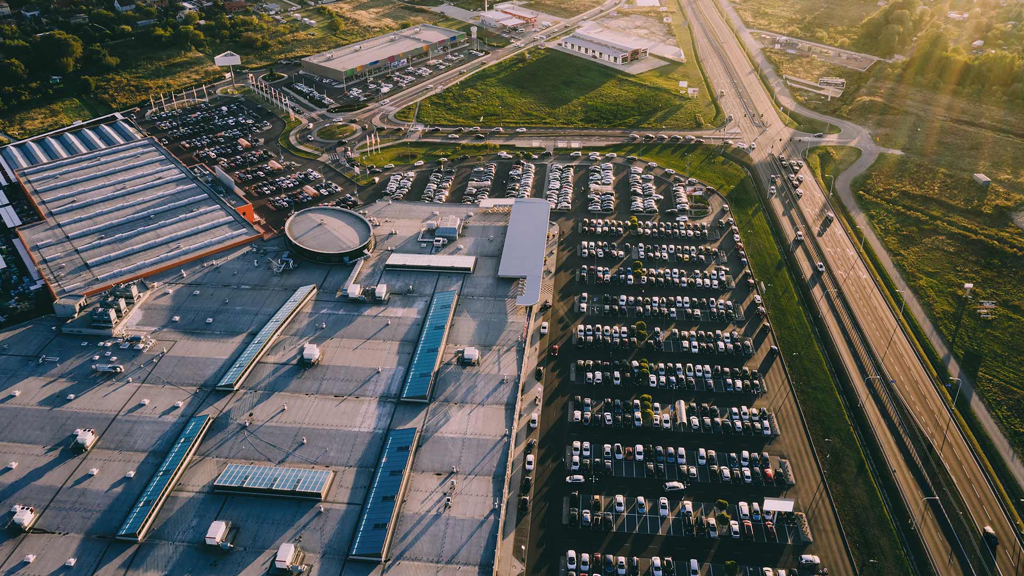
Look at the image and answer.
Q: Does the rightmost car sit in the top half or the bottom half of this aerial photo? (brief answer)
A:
bottom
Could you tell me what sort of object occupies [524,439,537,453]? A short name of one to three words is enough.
vehicle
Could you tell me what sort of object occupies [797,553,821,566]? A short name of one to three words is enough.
vehicle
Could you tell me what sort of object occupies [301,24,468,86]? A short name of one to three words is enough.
building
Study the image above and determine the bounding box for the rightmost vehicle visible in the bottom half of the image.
[980,525,1000,545]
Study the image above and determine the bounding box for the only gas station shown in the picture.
[480,2,538,31]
